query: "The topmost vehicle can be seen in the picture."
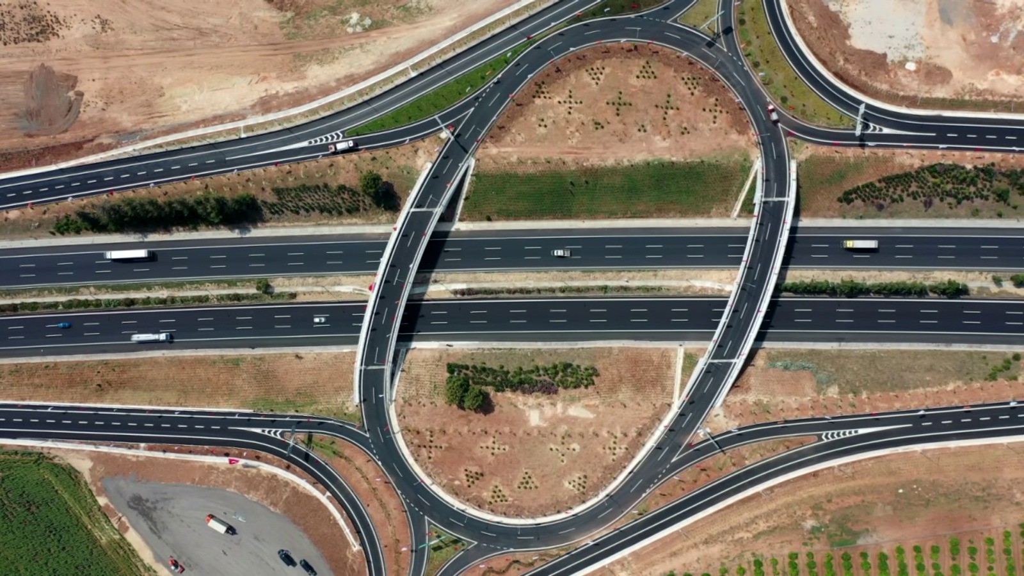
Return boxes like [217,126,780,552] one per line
[765,104,778,123]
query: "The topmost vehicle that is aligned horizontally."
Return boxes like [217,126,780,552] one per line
[329,141,355,153]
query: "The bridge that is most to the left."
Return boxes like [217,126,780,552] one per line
[352,157,471,407]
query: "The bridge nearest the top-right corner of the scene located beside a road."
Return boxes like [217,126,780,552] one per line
[675,160,798,411]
